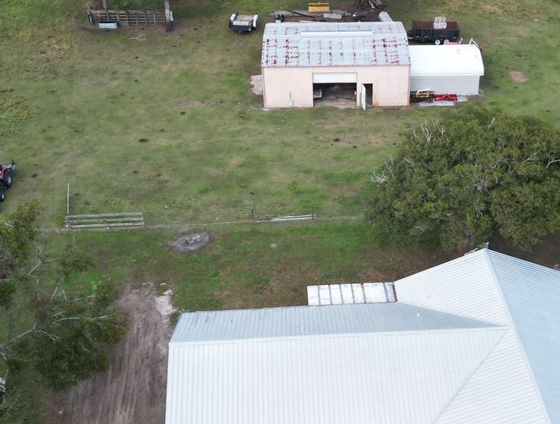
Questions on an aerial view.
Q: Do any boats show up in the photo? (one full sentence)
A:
No, there isn't any boat down there.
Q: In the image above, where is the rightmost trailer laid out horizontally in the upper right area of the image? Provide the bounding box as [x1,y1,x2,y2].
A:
[407,21,459,45]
